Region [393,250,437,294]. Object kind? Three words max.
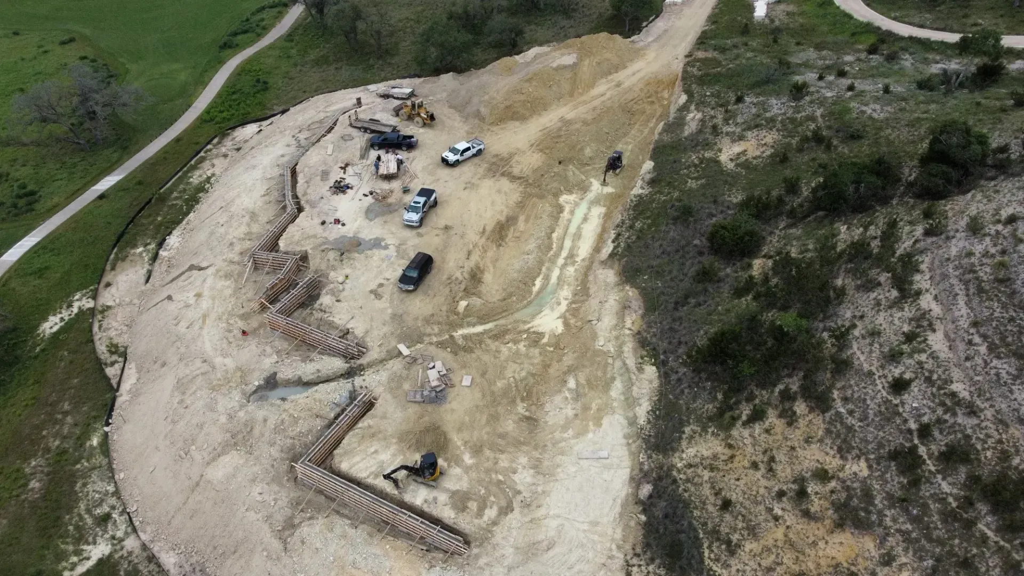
car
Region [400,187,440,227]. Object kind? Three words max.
truck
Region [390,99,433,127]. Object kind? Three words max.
work vehicle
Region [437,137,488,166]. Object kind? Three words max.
truck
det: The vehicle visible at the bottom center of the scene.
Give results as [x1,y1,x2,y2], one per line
[370,456,442,491]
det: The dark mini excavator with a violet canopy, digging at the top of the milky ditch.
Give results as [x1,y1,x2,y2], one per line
[604,148,629,181]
